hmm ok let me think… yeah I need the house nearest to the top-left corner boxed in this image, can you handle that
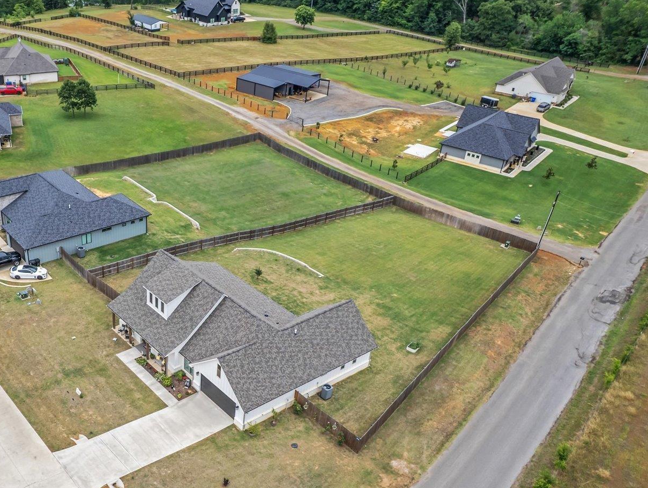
[0,36,60,85]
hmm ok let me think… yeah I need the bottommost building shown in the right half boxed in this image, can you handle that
[438,104,545,175]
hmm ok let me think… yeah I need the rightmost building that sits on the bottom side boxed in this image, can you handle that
[104,248,379,430]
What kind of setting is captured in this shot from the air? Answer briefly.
residential area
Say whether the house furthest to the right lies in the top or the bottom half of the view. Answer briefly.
top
